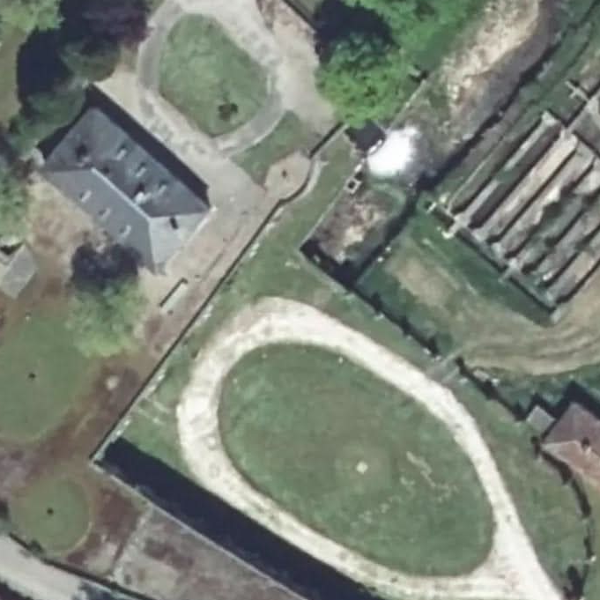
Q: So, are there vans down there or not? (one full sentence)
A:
No, I can't see a single van in this photo.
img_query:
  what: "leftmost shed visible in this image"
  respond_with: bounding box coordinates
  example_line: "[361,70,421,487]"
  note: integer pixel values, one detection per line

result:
[0,240,35,298]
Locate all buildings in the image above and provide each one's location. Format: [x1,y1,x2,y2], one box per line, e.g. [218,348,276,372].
[541,402,600,488]
[41,105,213,269]
[0,240,35,298]
[527,408,558,435]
